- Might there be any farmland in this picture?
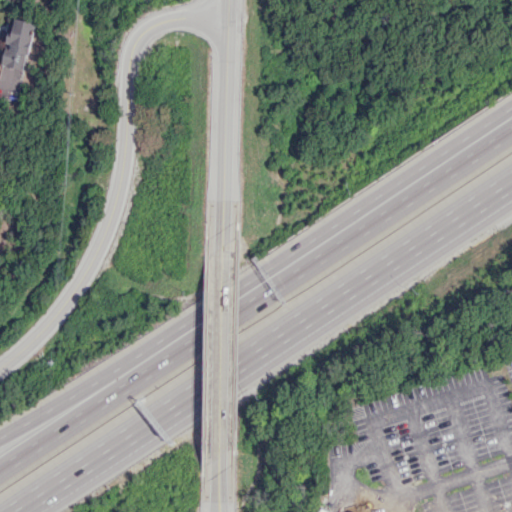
No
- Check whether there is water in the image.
No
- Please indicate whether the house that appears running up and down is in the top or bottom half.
top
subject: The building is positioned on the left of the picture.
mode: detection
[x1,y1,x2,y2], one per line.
[0,19,36,94]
